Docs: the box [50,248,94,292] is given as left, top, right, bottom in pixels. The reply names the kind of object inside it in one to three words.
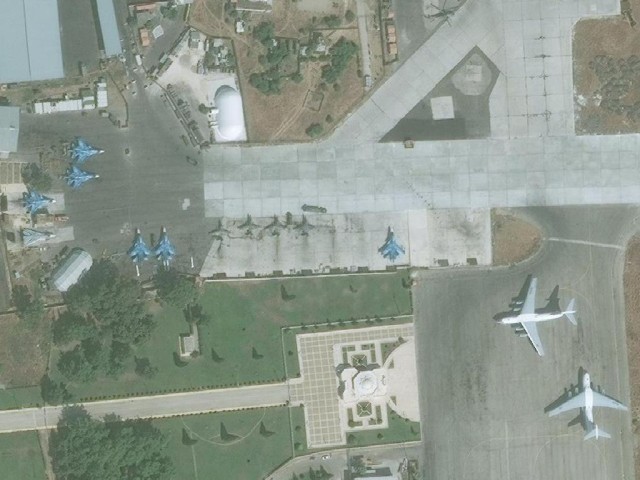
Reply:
shed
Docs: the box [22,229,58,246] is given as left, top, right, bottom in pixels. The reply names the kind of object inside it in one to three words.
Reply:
airplane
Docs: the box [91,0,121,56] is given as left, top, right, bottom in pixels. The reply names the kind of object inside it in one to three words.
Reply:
hangar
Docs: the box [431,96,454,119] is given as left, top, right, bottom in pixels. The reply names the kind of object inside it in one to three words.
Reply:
helipad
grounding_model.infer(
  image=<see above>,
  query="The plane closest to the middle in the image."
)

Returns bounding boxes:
[294,213,316,239]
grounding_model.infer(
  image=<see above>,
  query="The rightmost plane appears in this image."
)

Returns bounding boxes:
[551,371,631,442]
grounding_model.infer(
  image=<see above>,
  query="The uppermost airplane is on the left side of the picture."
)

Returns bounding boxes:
[68,140,105,162]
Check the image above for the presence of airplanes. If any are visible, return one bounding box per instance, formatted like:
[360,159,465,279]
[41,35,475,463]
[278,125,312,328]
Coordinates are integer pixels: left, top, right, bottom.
[64,166,100,189]
[294,213,316,239]
[551,371,631,442]
[239,214,261,239]
[266,214,288,239]
[381,228,403,264]
[22,229,58,246]
[21,191,56,214]
[153,227,176,264]
[68,140,105,162]
[128,229,151,264]
[499,278,580,357]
